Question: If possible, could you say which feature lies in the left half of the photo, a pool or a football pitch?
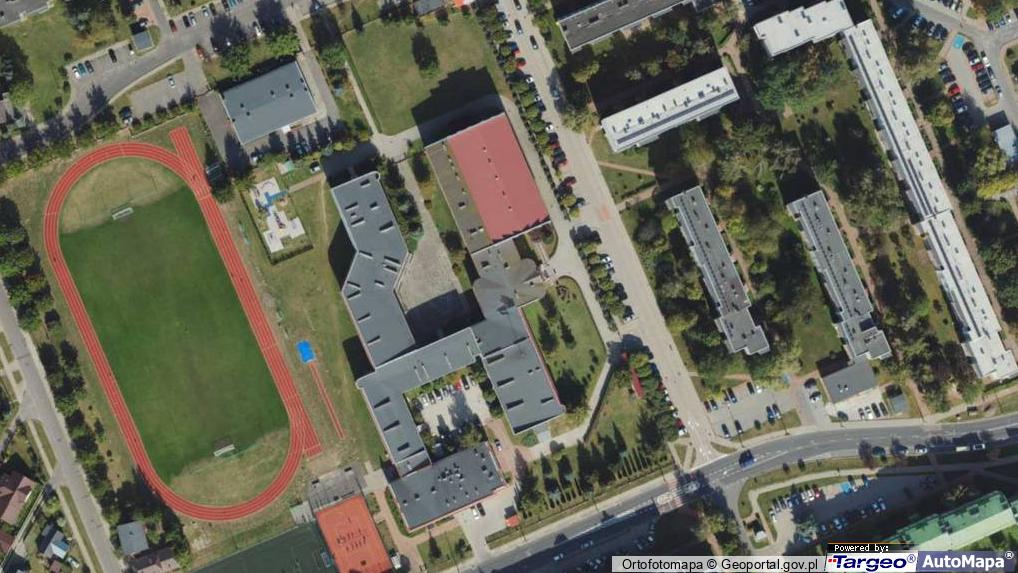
football pitch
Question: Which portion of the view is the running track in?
left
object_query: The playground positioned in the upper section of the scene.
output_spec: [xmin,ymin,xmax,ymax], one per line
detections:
[252,178,304,253]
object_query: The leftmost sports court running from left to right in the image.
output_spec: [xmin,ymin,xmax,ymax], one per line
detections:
[188,516,338,573]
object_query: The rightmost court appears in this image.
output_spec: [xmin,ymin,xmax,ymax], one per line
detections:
[316,494,395,573]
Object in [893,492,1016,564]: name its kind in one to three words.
building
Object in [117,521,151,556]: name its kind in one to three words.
house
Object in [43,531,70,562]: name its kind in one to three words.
house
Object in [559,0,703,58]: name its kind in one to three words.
building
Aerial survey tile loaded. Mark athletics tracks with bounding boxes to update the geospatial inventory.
[42,126,323,522]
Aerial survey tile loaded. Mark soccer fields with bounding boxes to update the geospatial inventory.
[59,157,289,505]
